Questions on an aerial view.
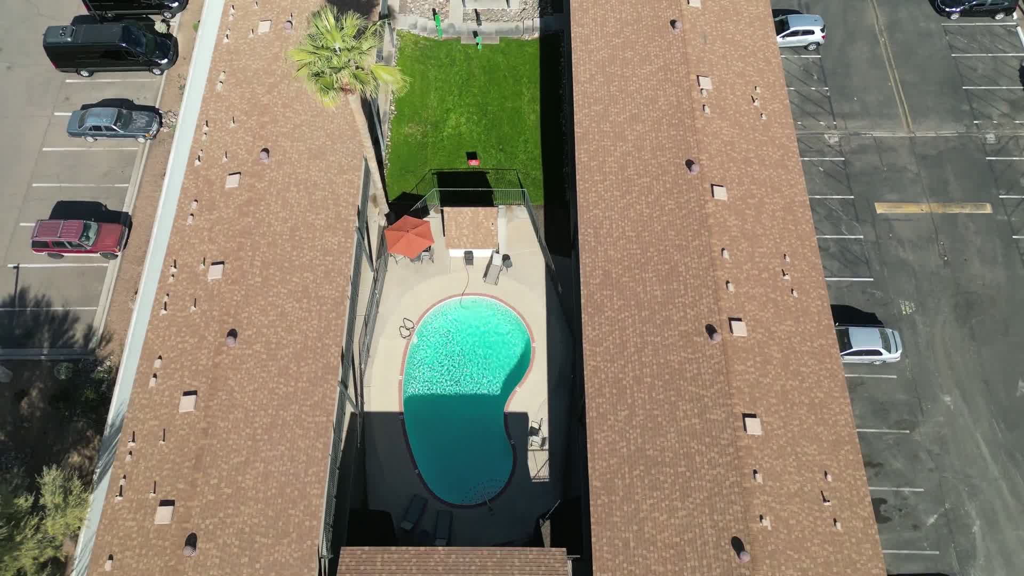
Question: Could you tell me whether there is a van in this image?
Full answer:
Yes, this view includes a van.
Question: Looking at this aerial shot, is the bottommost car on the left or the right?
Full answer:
You can find the bottommost car on the right side of the picture.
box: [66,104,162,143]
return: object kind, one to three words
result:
car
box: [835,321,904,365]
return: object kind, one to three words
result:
car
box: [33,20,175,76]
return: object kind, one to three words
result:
van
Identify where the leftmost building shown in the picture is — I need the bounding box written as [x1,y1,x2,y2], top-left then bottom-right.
[61,0,395,576]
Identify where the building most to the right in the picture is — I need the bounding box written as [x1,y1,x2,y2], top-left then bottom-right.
[563,0,886,576]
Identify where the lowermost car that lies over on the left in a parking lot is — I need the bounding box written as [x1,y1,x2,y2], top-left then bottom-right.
[26,216,128,259]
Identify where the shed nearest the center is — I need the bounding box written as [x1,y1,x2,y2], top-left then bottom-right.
[441,206,497,257]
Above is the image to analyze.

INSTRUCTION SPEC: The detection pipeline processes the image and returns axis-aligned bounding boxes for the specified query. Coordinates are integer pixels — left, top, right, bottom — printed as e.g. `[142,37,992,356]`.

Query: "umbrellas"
[385,216,434,261]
